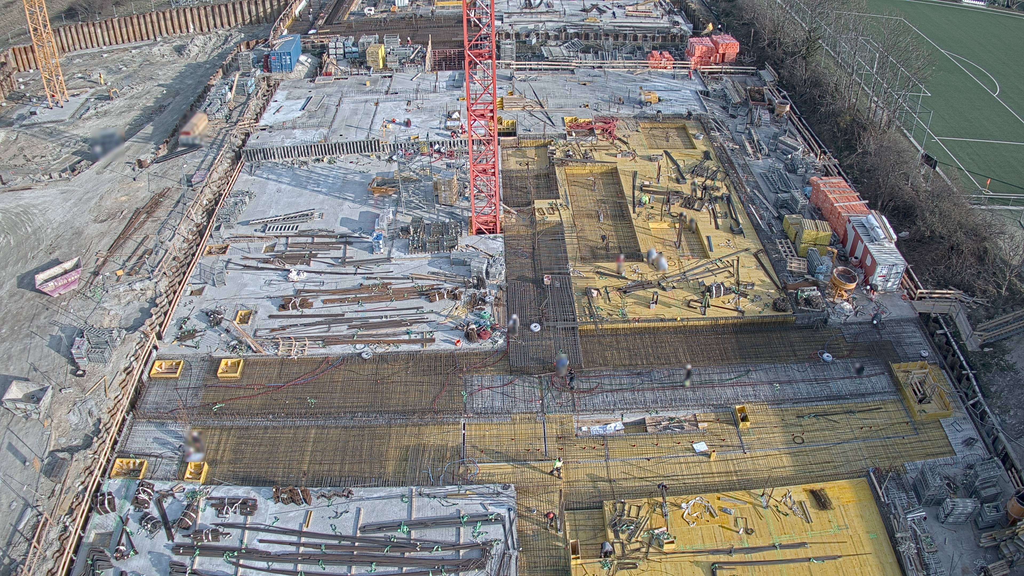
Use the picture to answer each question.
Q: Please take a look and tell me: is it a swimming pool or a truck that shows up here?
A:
truck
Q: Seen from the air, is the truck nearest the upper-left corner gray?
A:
Yes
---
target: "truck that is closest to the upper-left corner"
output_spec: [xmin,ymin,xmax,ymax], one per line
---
[80,122,129,158]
